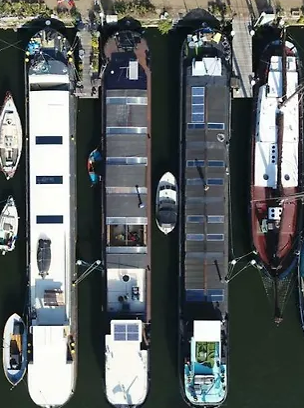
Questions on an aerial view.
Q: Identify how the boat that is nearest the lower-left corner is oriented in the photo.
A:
vertically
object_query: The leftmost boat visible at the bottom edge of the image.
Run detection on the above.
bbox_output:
[1,313,27,394]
